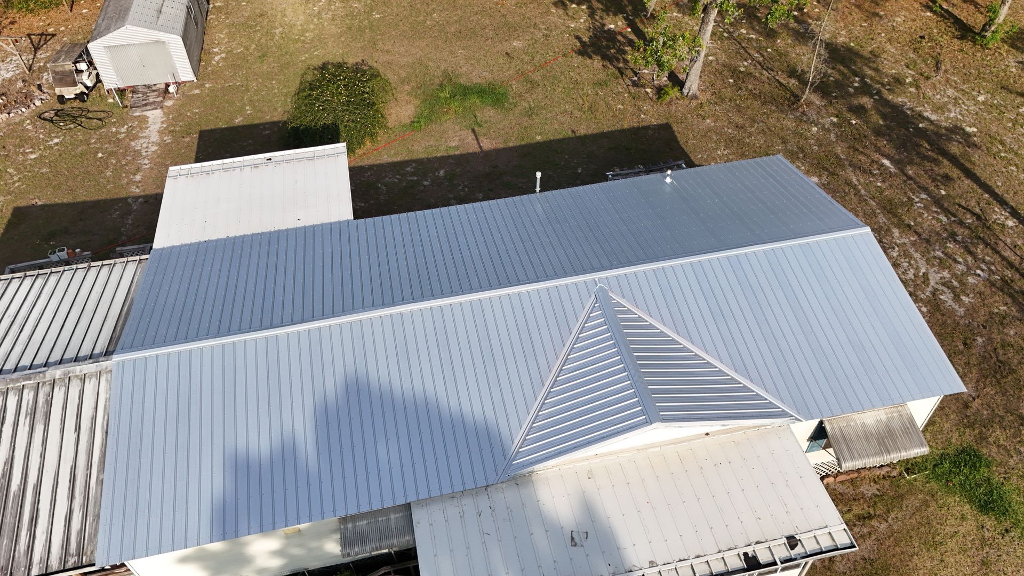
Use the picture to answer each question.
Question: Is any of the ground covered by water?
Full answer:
No, there is no water in the image.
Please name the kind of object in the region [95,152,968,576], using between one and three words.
house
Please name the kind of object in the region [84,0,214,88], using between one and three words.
shed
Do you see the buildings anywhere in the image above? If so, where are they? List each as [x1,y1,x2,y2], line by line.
[84,0,214,88]
[95,152,968,576]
